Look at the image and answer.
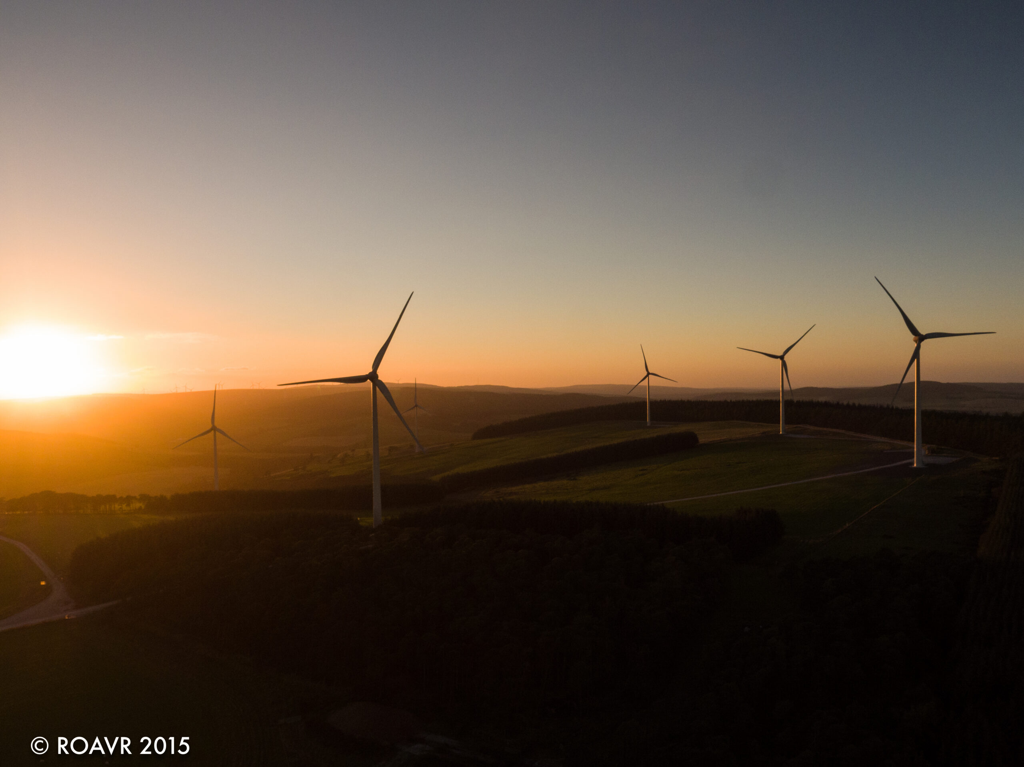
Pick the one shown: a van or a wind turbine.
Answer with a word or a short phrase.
wind turbine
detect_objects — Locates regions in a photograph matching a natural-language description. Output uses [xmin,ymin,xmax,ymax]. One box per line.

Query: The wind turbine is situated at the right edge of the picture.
[880,276,999,469]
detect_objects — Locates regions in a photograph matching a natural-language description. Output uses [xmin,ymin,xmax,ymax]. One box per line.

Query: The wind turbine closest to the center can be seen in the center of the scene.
[391,378,438,448]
